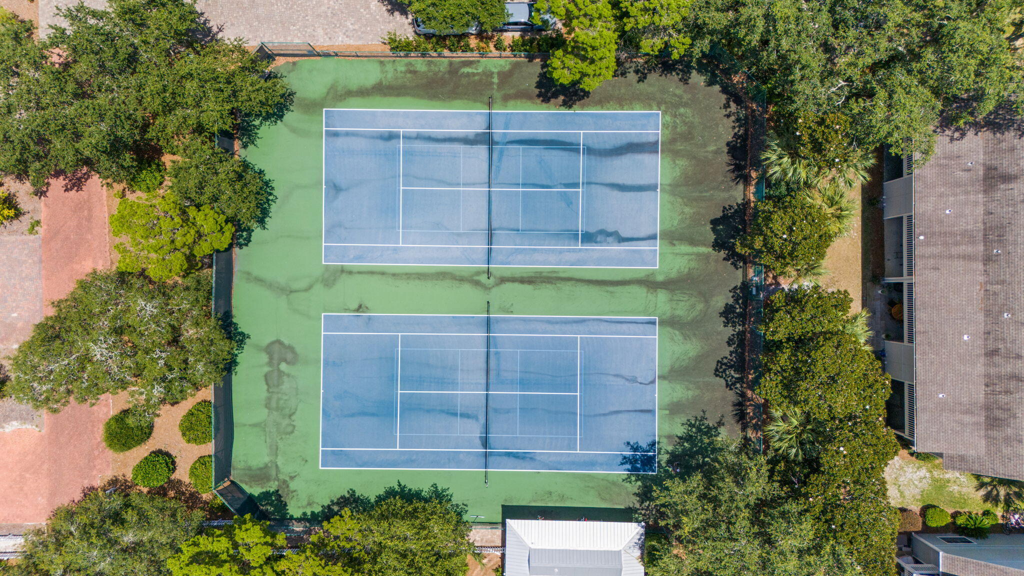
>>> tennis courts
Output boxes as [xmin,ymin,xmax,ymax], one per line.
[320,314,658,473]
[322,108,661,268]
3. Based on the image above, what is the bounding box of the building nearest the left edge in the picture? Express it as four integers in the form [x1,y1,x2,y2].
[504,518,646,576]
